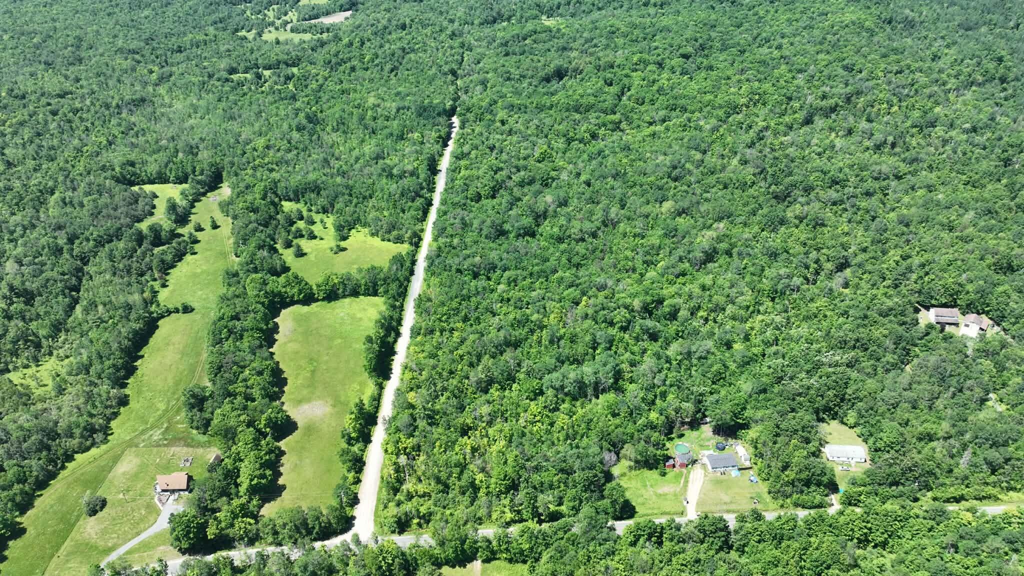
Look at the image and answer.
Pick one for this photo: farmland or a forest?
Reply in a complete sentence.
This image shows a forest.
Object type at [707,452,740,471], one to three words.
house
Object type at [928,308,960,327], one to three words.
house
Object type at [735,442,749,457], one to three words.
vehicle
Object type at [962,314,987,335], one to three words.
building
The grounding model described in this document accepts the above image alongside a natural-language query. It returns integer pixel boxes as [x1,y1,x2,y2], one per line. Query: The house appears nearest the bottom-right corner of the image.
[824,444,867,463]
